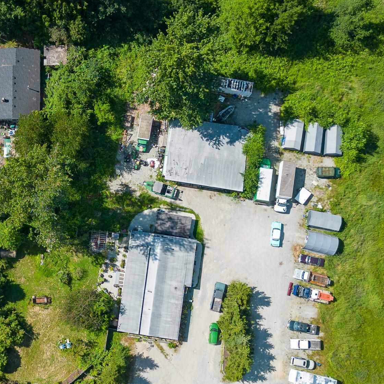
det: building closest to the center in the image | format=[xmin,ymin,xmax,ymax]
[163,120,249,193]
